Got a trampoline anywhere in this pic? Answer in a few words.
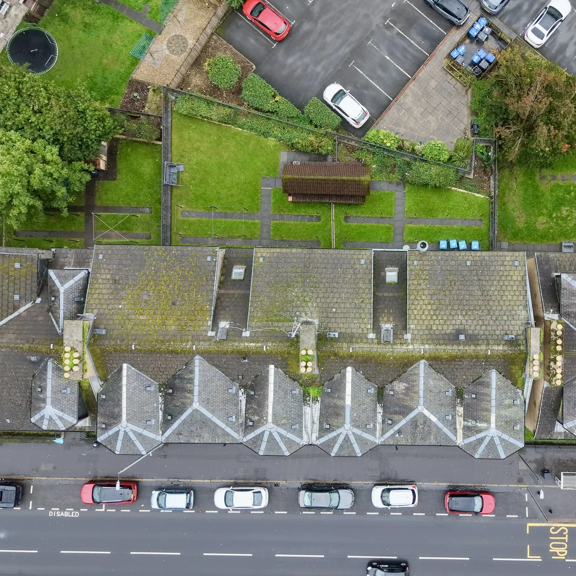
Yes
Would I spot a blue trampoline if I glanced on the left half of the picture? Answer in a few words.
No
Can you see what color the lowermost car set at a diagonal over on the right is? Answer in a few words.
white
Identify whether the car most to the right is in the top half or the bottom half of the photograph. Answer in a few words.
top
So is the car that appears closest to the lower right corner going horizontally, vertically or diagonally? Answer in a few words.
horizontally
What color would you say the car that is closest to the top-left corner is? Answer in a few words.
red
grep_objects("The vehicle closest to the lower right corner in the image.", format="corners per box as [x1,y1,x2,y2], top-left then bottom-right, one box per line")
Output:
[444,490,497,517]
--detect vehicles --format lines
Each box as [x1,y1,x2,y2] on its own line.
[242,0,292,42]
[81,480,138,507]
[213,485,270,512]
[444,490,497,517]
[323,82,371,131]
[422,0,471,29]
[150,487,196,512]
[0,481,24,507]
[370,483,419,510]
[365,562,410,576]
[480,0,510,17]
[525,0,569,50]
[297,485,356,512]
